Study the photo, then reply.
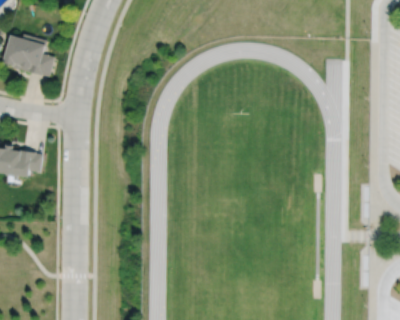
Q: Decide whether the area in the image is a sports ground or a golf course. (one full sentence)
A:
The picture captures a sports ground.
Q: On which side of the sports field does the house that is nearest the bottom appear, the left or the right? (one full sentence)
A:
In the image, the house that is nearest the bottom sits on the left side of the sports field.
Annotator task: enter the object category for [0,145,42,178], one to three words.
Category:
house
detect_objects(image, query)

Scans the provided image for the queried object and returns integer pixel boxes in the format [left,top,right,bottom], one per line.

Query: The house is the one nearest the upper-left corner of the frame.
[4,34,53,80]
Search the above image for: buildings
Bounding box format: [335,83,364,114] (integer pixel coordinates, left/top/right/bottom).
[0,145,42,178]
[4,34,53,80]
